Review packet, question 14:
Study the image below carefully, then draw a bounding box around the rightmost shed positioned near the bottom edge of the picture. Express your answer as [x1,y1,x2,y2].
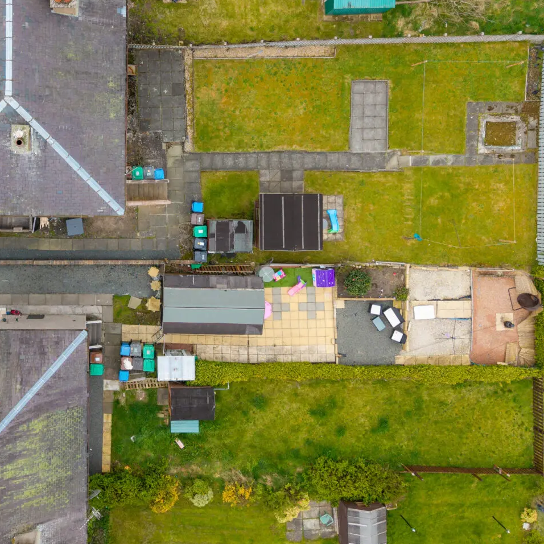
[339,496,388,544]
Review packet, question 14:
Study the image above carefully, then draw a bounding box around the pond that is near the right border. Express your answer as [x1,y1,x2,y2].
[479,114,527,153]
